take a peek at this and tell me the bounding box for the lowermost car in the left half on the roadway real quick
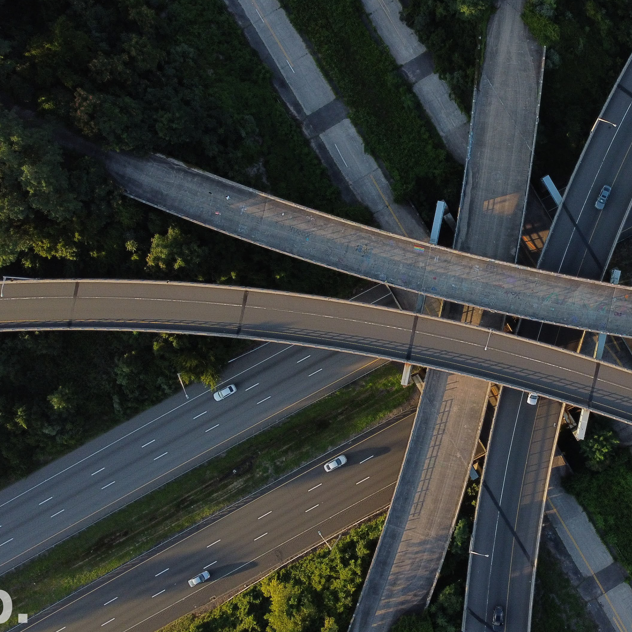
[188,570,210,586]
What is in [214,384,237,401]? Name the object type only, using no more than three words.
car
